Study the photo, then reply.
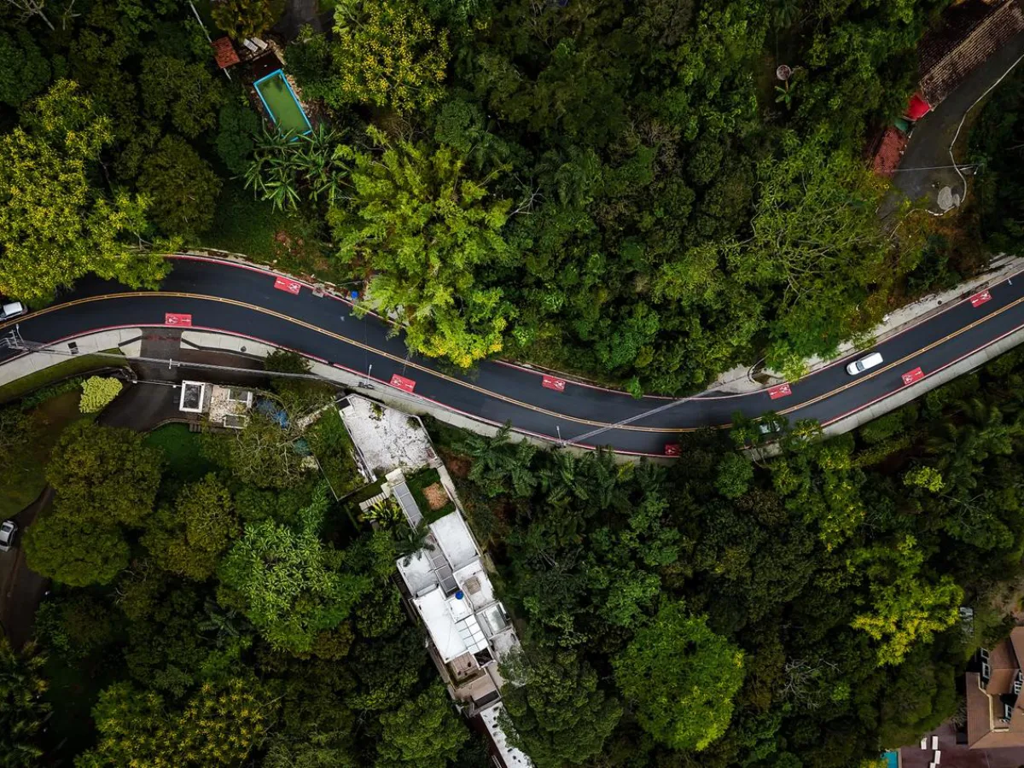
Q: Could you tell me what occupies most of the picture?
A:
trees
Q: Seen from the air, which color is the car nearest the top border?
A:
white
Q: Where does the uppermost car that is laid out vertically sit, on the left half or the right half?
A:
left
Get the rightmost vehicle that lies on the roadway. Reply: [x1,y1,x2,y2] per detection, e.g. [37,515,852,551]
[845,349,884,377]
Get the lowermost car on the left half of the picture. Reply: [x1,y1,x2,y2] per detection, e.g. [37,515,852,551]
[0,515,20,555]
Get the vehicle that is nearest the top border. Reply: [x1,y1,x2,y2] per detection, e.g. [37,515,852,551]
[0,299,27,322]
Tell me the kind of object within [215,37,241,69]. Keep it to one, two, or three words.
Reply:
shed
